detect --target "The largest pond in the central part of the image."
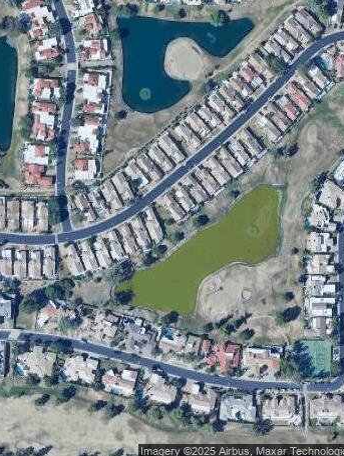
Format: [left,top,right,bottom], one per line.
[115,184,282,314]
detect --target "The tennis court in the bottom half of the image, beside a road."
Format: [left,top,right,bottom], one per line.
[301,339,331,376]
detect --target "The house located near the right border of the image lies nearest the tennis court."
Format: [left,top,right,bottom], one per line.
[306,318,333,336]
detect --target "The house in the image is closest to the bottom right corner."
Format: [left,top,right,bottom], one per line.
[312,394,344,425]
